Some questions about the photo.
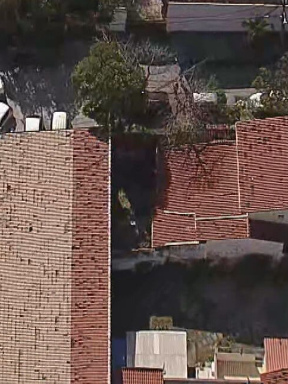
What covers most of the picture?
buildings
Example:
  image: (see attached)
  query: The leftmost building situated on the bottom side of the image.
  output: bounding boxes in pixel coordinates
[0,131,112,384]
